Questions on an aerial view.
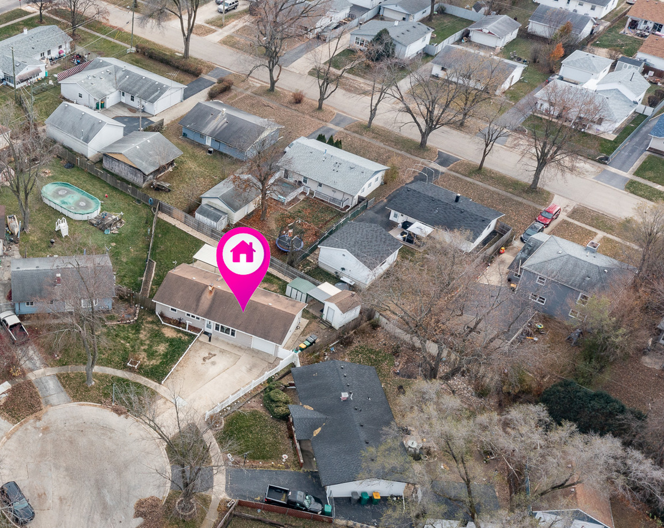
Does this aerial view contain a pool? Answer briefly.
Yes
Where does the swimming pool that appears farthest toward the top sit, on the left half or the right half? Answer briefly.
left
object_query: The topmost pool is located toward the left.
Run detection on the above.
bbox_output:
[42,185,101,218]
